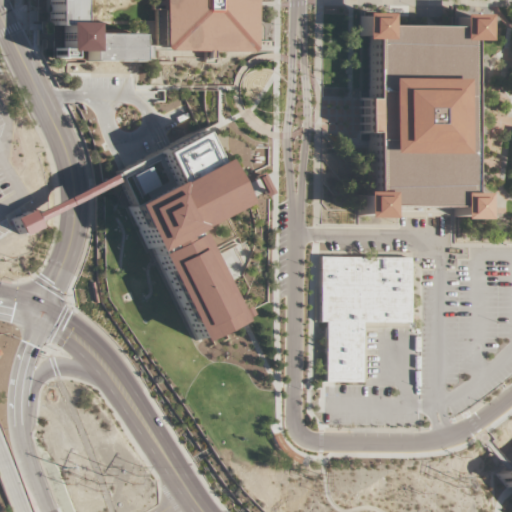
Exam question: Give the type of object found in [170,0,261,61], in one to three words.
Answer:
building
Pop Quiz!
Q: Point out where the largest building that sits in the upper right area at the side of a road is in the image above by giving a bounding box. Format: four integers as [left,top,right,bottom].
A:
[358,14,498,219]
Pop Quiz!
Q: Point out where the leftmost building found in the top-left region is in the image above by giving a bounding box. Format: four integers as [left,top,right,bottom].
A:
[52,0,152,62]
